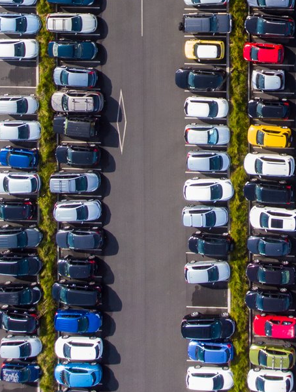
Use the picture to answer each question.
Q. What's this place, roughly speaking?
parking lot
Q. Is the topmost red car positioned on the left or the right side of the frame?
right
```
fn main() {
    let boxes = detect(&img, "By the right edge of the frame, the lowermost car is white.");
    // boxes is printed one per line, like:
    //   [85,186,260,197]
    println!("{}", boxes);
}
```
[248,365,293,392]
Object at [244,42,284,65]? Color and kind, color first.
red car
